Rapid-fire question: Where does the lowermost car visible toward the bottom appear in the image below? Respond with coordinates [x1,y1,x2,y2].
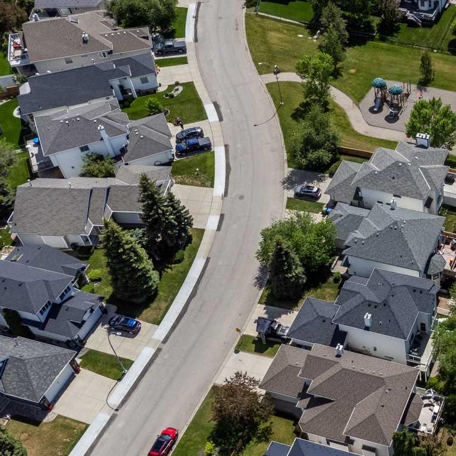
[146,424,176,456]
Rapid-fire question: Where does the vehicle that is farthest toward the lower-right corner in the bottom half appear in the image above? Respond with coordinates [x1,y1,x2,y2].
[252,307,292,339]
